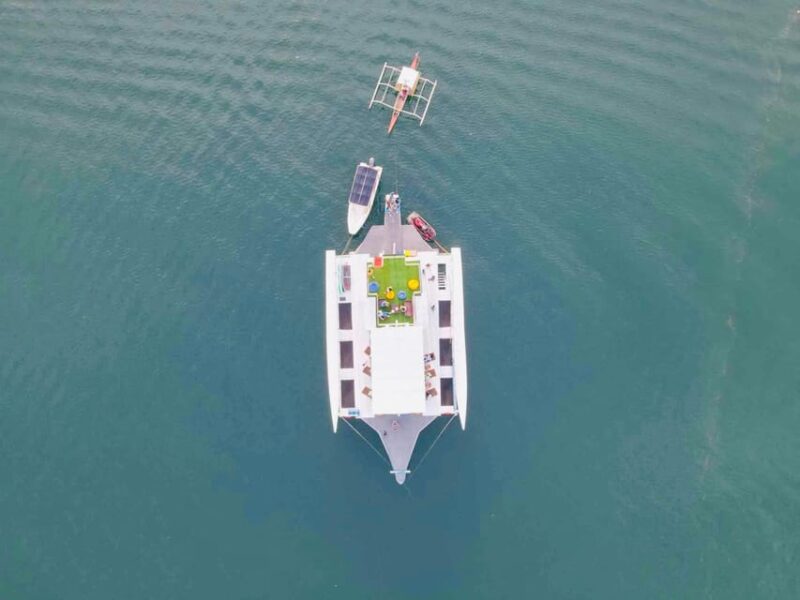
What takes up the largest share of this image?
water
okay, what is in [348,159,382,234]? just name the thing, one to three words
boat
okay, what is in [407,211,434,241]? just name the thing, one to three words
boat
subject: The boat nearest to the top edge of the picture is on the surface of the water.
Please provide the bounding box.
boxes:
[370,51,436,133]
